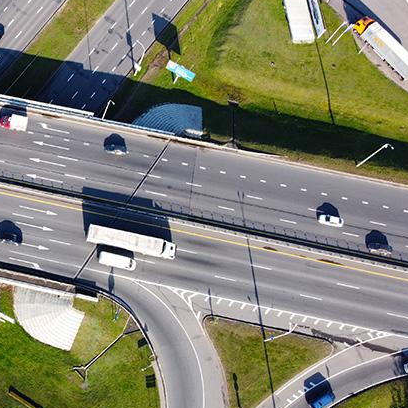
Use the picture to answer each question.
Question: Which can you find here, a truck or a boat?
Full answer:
The image shows a truck.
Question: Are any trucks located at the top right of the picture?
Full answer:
Yes, the scene does show a truck at the top right of the picture.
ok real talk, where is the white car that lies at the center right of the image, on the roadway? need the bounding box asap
[317,214,343,227]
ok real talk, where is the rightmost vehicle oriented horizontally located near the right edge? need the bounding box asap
[367,238,392,252]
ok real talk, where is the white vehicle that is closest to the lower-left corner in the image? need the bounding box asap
[98,251,135,270]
